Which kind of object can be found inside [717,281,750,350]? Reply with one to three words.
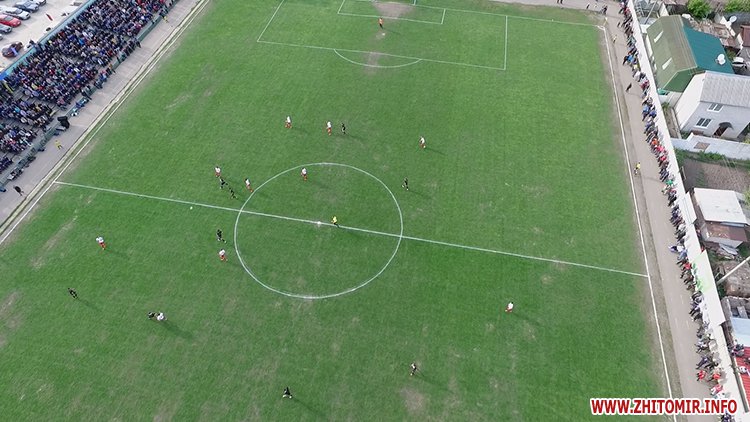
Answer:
shed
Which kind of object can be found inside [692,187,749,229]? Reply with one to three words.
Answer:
shed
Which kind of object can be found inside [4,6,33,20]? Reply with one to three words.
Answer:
vehicle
